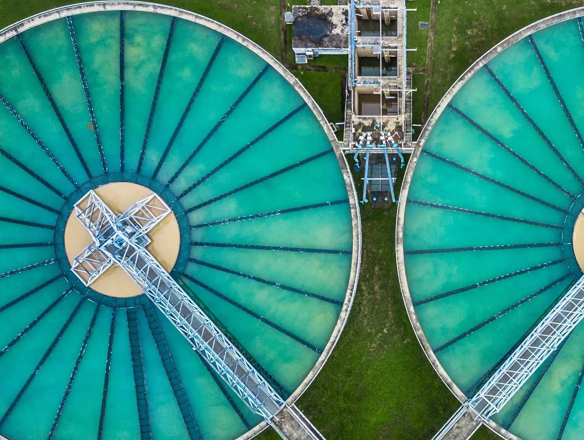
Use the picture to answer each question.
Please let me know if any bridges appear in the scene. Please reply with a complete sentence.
Yes, the image includes a bridge.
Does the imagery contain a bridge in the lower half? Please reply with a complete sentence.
Yes, I can see a bridge in the lower half.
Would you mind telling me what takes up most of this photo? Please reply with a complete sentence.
For the most part, this view shows water.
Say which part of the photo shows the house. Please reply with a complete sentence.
The house appears toward the top of the photo.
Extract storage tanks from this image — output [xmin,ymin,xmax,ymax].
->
[395,6,584,440]
[0,0,362,440]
